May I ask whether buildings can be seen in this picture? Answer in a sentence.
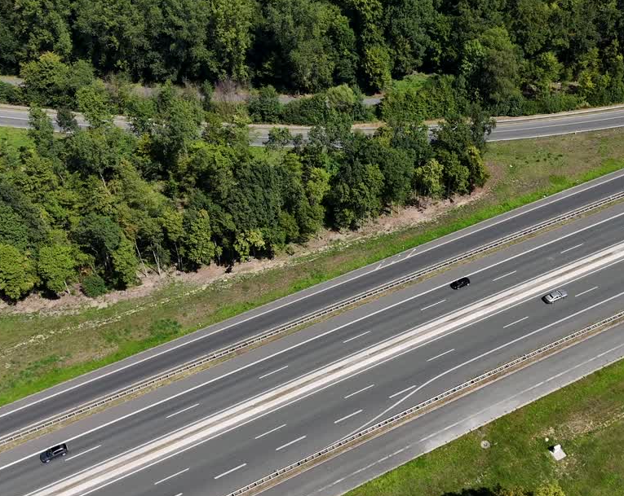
No, there's no building here.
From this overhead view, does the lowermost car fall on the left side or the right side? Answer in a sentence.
It is on the left.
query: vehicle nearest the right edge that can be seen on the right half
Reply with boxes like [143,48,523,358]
[544,287,567,300]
